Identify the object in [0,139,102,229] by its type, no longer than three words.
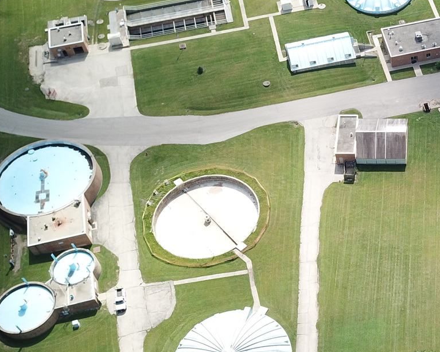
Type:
storage tank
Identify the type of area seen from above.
industrial area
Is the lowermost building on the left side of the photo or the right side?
left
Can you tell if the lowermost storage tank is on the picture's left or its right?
left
